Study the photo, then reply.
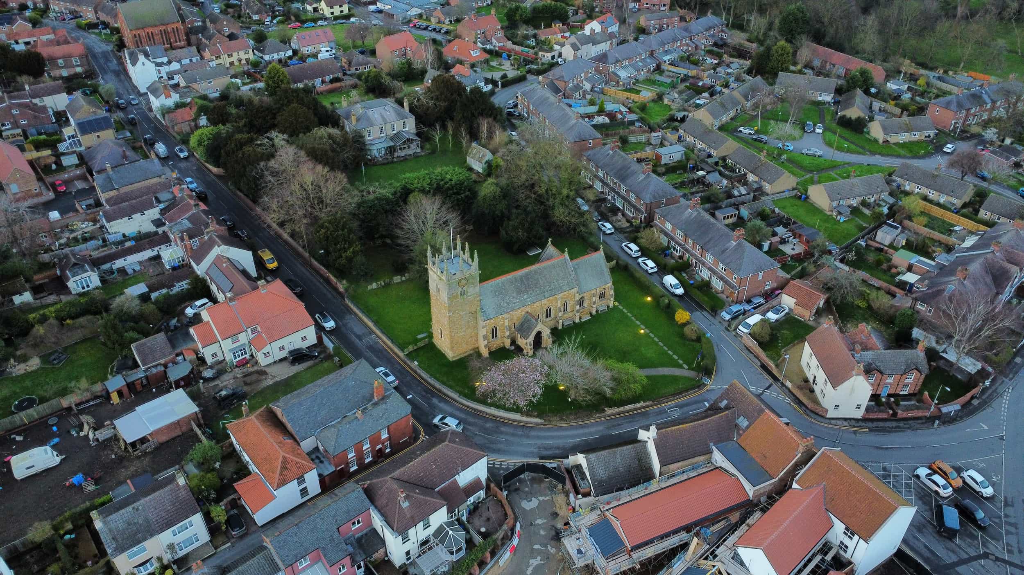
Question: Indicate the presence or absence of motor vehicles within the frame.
Yes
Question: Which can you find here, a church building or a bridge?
church building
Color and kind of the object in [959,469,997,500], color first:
white car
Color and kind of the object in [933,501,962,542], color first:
blue car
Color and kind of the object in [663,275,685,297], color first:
white car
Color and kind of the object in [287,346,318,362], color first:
black car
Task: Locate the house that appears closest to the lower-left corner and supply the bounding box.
[89,467,209,575]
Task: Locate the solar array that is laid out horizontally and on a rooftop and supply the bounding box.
[76,114,113,134]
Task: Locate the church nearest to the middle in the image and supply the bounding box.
[423,221,614,360]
